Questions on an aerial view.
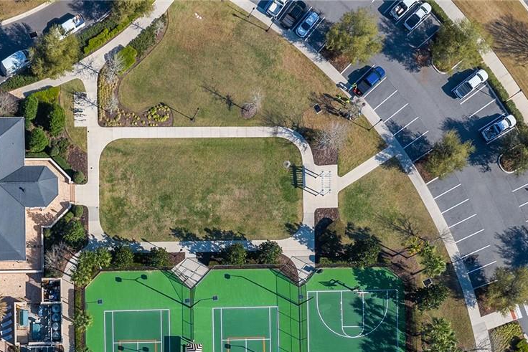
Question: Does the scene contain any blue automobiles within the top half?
Yes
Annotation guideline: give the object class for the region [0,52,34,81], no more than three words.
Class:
van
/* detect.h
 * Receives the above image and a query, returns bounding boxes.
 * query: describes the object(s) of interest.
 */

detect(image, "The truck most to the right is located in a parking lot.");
[478,115,513,145]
